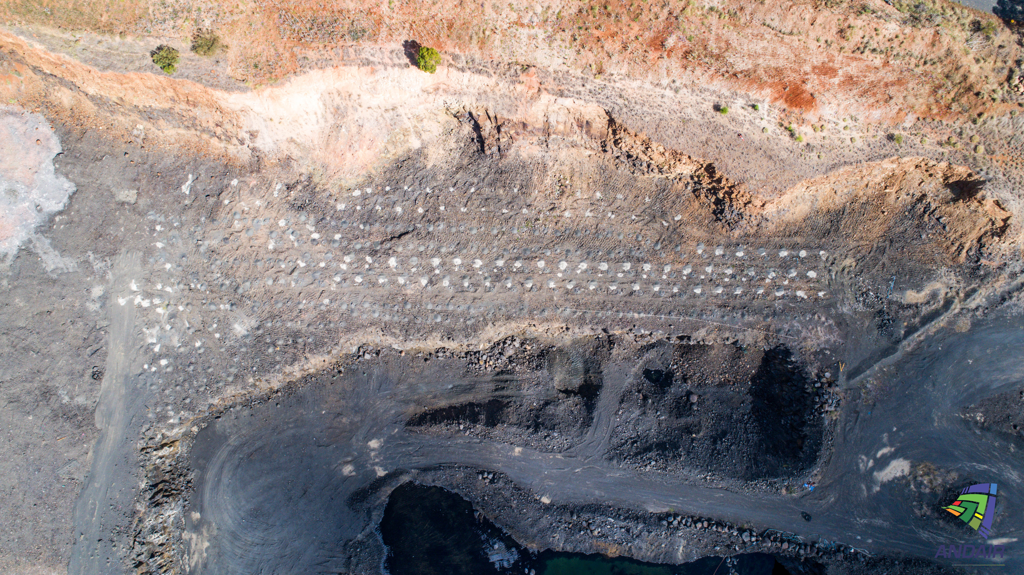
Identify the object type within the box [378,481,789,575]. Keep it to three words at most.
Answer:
pond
